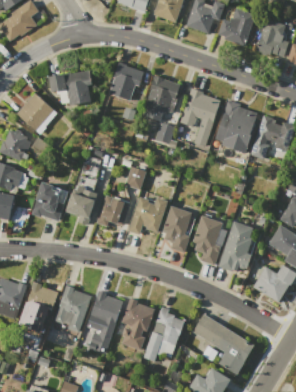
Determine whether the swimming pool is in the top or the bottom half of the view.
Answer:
bottom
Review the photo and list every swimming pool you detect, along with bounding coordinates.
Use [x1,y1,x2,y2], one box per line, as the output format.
[72,366,98,392]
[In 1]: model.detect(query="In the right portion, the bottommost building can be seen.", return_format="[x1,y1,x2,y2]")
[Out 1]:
[190,368,231,392]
